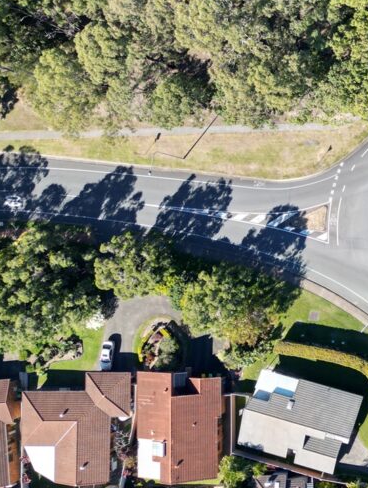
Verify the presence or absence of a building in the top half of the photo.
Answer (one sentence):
No, no building is visible in the top half of the photo.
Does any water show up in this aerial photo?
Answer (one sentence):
No, the picture contains no water.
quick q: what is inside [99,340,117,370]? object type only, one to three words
car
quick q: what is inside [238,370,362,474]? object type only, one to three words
house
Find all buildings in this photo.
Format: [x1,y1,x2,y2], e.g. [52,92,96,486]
[137,372,224,485]
[22,371,136,485]
[253,472,313,488]
[238,370,362,474]
[0,379,21,486]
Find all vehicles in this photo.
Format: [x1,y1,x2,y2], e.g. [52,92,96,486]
[0,195,29,209]
[99,340,117,370]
